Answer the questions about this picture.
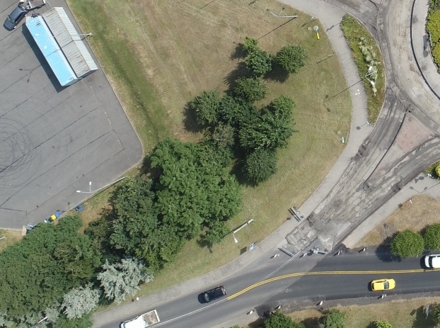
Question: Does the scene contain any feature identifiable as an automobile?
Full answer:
Yes, you can see an automobile in this photo.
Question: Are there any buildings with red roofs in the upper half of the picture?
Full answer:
No, no building with a red roof appears in the upper half of the picture.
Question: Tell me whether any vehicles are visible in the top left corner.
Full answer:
Yes, looking in the top left corner, one can make out a vehicle.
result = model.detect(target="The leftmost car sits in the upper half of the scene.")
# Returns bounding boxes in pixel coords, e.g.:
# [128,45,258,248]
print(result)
[6,3,27,30]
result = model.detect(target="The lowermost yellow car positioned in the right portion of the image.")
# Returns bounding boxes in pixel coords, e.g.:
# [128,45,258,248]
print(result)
[370,278,396,291]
